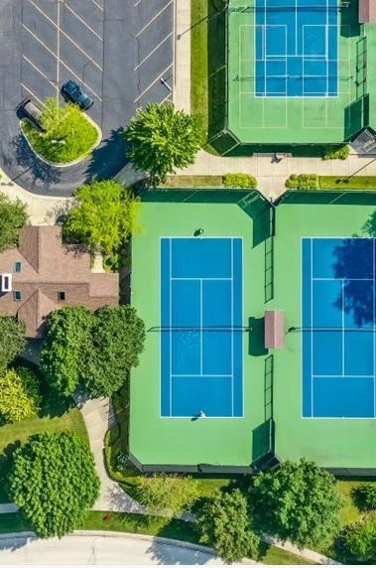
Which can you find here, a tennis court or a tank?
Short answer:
tennis court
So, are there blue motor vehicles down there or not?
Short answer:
Yes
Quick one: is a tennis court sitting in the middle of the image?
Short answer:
Yes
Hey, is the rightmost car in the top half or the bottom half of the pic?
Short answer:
top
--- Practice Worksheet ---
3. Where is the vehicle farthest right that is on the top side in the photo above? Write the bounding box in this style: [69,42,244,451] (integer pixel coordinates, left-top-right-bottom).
[59,79,94,109]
